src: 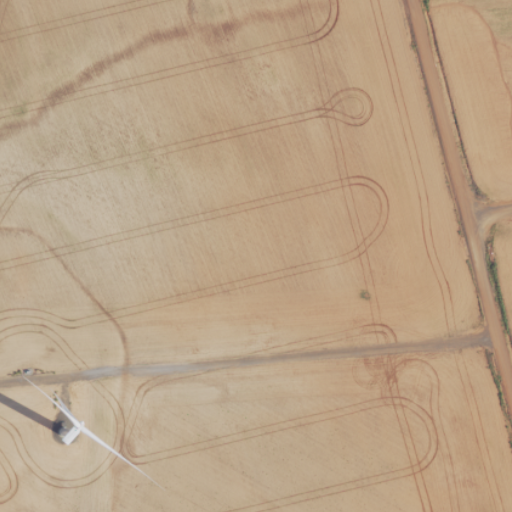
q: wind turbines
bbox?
[26,380,166,491]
